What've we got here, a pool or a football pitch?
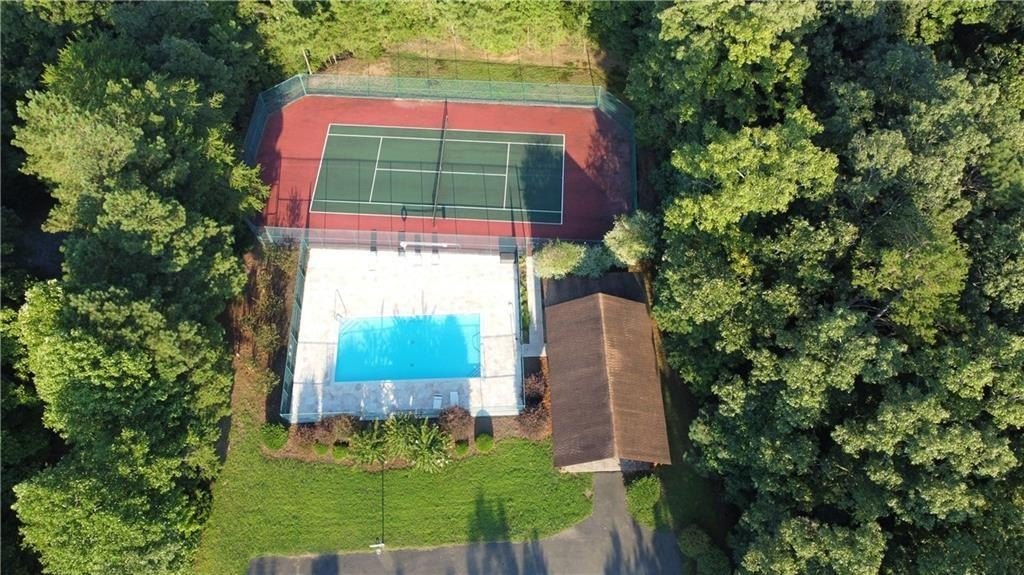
pool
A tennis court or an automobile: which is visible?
tennis court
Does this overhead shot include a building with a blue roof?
No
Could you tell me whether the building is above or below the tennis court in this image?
below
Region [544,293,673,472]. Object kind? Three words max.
building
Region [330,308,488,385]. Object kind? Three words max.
swimming pool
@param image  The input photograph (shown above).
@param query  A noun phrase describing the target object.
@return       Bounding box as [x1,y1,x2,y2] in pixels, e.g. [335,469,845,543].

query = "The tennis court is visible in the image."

[245,90,639,258]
